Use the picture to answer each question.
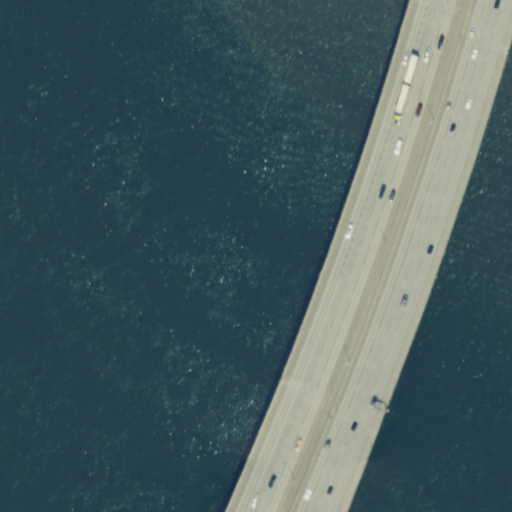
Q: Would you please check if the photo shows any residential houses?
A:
No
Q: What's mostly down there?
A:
water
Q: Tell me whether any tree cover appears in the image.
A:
No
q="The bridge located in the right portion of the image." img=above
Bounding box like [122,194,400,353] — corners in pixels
[226,0,512,512]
